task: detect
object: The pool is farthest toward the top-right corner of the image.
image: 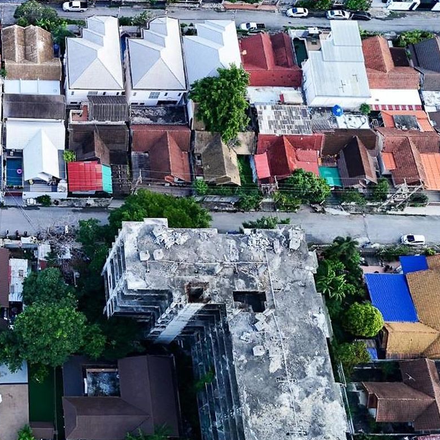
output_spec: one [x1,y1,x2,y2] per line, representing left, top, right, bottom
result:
[294,36,308,65]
